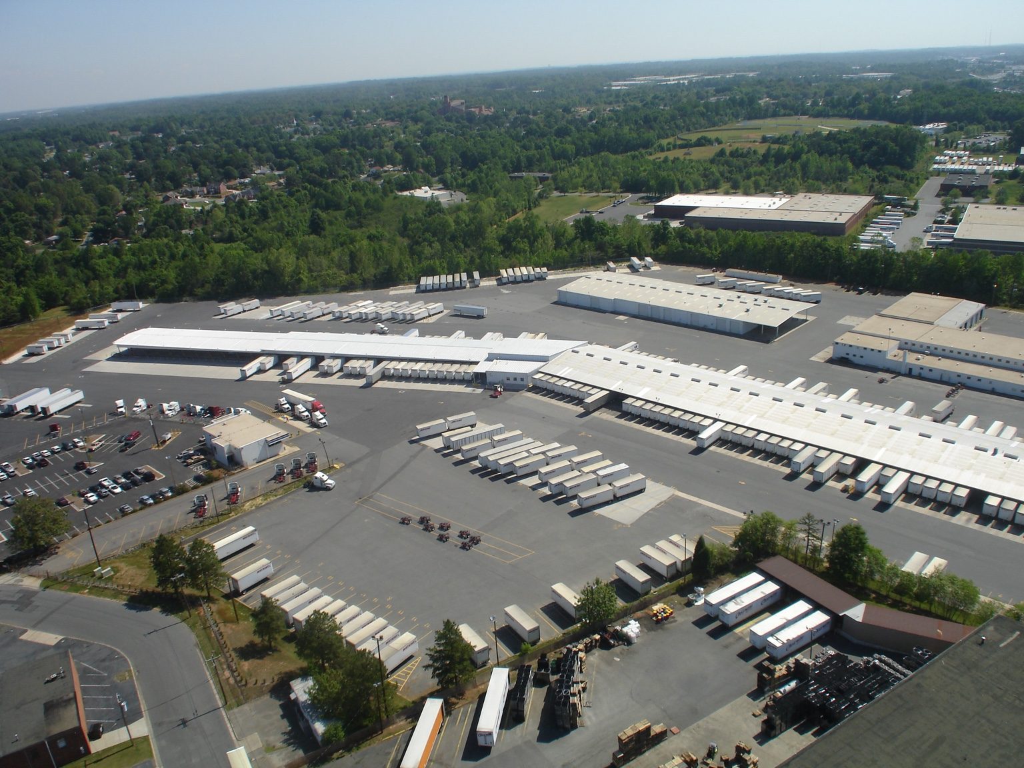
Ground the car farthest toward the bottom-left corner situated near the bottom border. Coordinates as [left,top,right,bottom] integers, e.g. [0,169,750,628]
[83,719,107,741]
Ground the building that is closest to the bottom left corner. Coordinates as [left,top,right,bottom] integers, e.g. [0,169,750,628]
[0,647,87,768]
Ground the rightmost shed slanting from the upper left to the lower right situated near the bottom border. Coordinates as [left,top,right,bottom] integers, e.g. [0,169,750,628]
[288,676,350,757]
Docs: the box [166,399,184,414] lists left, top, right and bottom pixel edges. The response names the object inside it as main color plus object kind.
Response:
white vehicle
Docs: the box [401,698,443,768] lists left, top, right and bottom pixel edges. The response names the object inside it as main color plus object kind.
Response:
white trailer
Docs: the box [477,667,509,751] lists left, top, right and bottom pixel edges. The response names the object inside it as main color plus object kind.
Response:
white trailer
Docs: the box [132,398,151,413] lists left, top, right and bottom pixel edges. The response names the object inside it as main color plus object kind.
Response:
white vehicle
